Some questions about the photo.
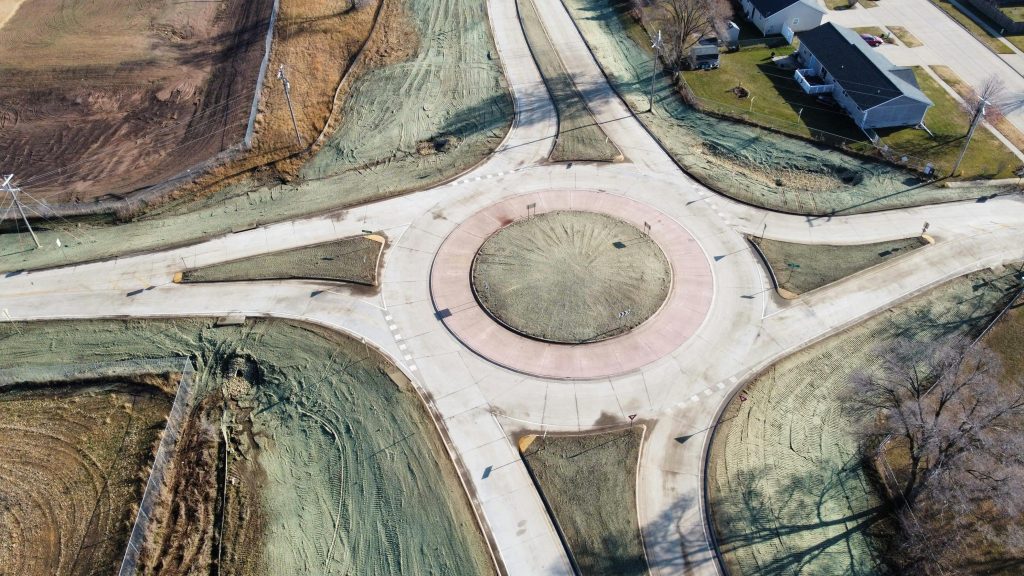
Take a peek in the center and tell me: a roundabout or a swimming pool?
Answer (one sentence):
There is a roundabout in the center.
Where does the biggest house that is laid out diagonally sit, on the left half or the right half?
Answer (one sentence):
You can find the biggest house that is laid out diagonally on the right side of the picture.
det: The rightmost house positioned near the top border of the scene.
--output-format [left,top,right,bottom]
[792,15,937,134]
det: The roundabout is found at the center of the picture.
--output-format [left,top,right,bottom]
[331,163,807,451]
